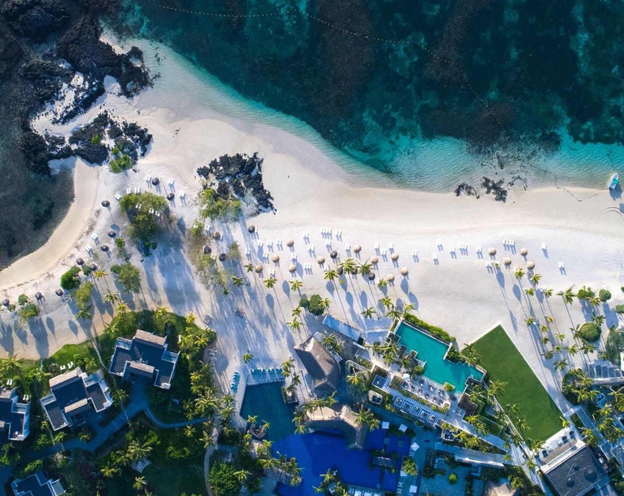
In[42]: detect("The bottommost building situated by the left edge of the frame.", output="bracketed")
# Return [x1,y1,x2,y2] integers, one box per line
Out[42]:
[15,468,66,496]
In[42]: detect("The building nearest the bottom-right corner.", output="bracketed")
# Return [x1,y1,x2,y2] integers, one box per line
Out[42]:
[538,428,611,496]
